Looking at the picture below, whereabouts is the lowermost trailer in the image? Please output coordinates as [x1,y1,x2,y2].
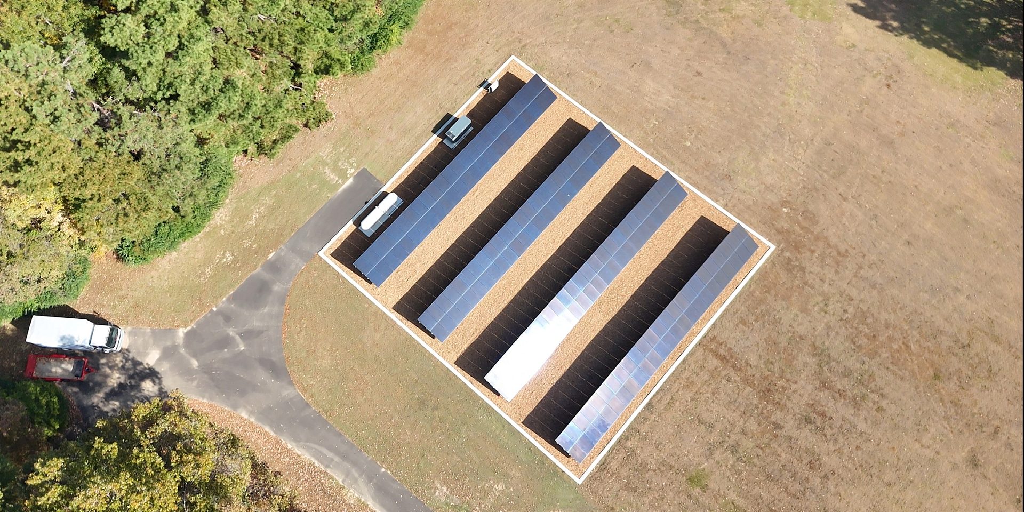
[25,353,100,383]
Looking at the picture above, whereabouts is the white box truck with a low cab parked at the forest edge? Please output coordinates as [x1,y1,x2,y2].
[25,315,127,355]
